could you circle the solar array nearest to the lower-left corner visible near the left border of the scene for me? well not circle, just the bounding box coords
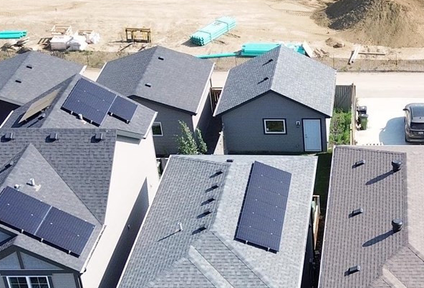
[0,184,94,251]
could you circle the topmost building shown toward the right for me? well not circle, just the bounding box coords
[211,48,340,154]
